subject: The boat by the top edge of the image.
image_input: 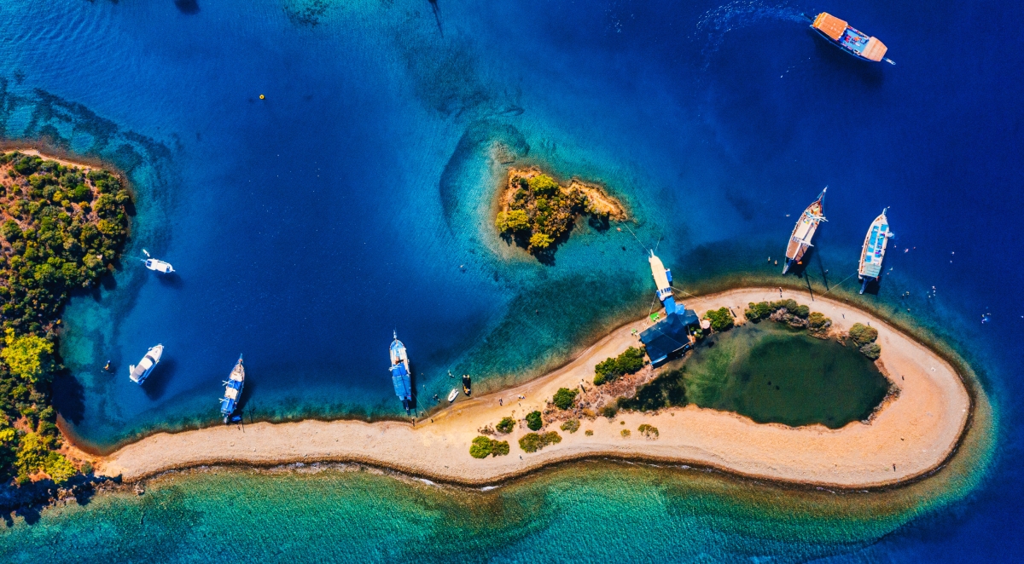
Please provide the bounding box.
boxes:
[802,10,897,63]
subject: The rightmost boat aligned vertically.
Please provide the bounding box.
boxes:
[859,208,889,293]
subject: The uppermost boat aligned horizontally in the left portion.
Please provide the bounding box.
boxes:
[141,259,175,273]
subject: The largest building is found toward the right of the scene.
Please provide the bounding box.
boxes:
[638,309,701,366]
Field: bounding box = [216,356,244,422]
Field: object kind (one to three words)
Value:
boat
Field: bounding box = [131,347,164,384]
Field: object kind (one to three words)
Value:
boat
